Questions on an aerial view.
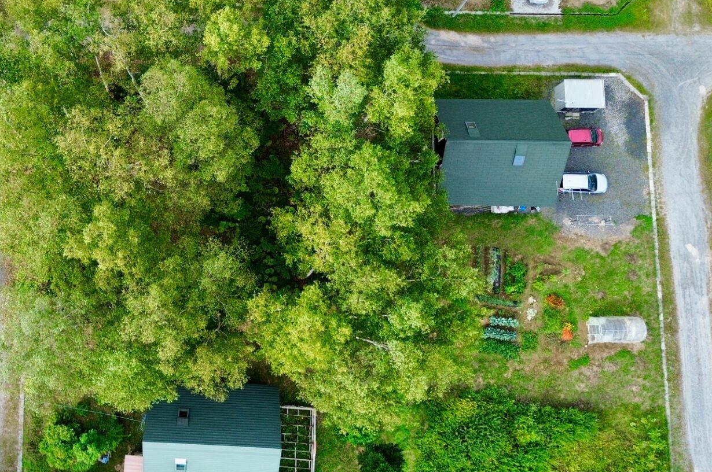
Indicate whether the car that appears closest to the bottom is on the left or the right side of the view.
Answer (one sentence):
The car that appears closest to the bottom is on the right side of the image.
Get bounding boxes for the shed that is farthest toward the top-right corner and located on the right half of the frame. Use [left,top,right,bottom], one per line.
[554,79,605,112]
